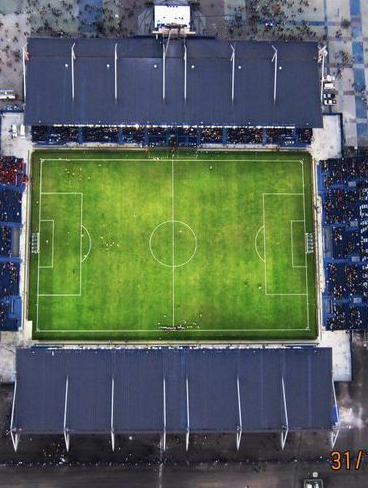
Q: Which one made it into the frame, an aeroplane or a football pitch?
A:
football pitch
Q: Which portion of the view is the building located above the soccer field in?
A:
top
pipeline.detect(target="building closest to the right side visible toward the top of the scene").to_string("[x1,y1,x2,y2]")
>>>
[139,0,207,48]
